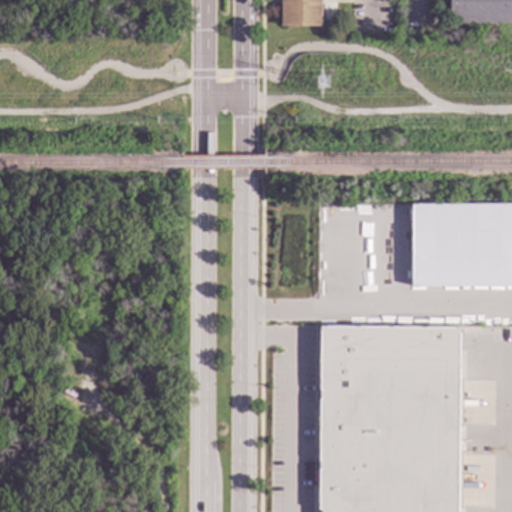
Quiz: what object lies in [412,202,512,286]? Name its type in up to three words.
building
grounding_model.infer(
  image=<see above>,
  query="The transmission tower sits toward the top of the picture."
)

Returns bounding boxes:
[316,62,332,98]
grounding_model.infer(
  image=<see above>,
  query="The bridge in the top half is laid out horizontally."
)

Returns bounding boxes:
[166,143,289,184]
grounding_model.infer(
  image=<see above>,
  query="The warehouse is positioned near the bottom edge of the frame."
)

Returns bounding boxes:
[320,326,466,512]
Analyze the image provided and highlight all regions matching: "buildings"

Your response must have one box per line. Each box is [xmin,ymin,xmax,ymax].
[452,0,512,23]
[412,202,512,286]
[320,326,466,512]
[282,0,324,26]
